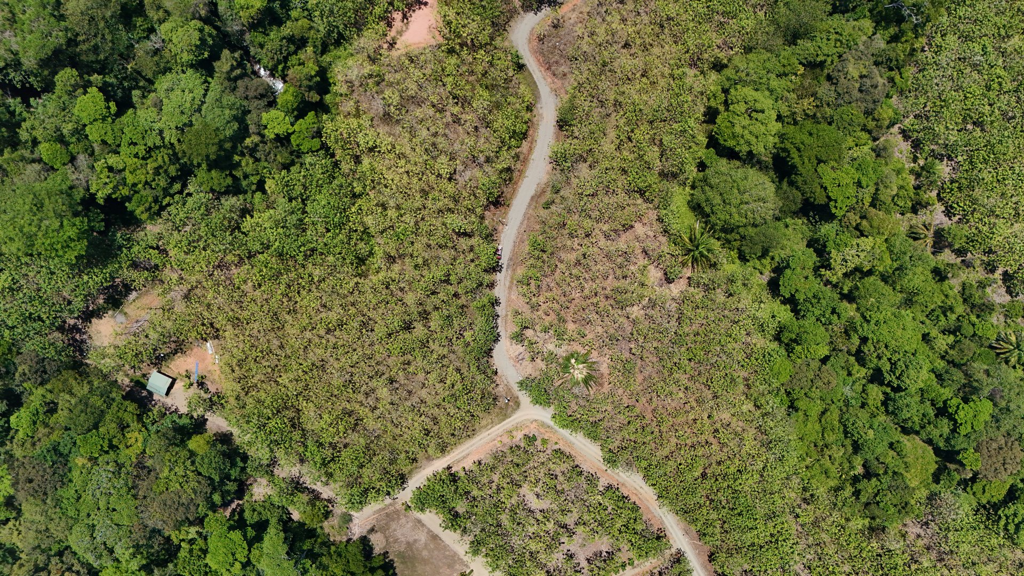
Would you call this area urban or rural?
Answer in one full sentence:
The area is rural.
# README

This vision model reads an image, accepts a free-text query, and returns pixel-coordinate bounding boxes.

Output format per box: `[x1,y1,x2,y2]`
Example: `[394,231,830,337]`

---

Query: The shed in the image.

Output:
[146,371,176,396]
